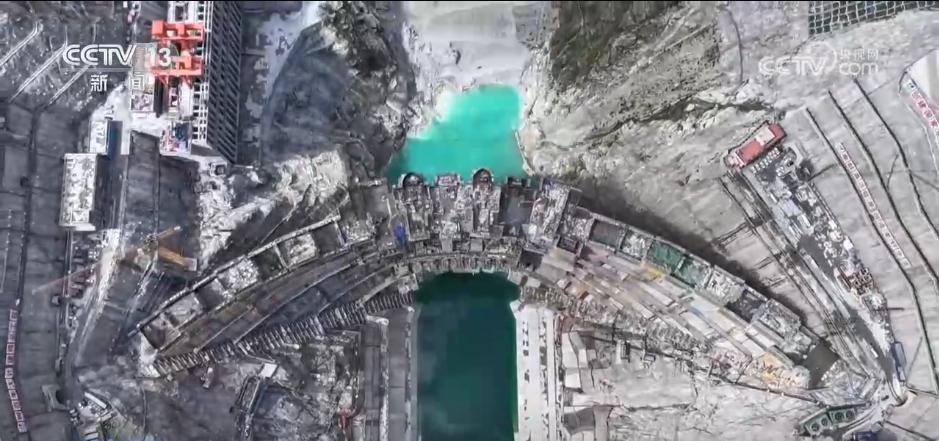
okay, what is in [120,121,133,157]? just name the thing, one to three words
shed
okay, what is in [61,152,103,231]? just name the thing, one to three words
building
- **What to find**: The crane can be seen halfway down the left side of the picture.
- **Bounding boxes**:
[32,224,199,292]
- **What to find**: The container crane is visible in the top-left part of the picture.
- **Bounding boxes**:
[151,20,209,80]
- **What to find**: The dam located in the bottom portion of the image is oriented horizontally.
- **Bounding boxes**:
[139,166,831,391]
